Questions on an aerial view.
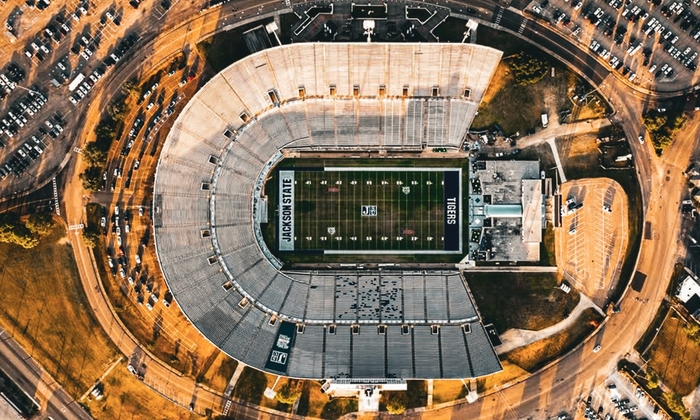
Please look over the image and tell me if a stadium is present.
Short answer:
Yes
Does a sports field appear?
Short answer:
Yes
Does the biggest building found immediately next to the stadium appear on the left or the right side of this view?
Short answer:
right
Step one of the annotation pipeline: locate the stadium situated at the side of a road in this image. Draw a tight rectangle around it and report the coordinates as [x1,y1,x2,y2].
[152,40,504,411]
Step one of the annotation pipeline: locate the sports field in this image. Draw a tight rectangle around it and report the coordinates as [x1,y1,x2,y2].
[261,157,469,265]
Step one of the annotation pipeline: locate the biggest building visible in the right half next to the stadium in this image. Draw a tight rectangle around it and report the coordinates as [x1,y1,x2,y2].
[468,159,543,262]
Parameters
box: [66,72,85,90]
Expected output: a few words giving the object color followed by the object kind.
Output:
white vehicle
